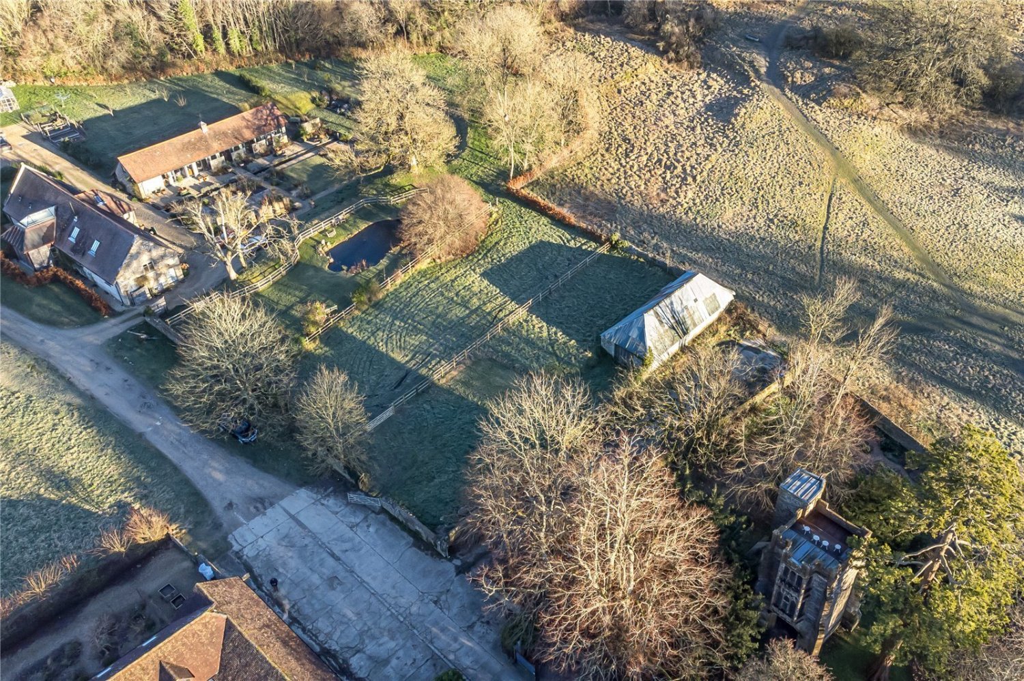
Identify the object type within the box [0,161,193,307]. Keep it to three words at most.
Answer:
house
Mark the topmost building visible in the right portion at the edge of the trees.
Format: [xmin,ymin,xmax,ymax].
[591,267,740,381]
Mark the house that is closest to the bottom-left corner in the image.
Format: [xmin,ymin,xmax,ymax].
[88,570,340,681]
